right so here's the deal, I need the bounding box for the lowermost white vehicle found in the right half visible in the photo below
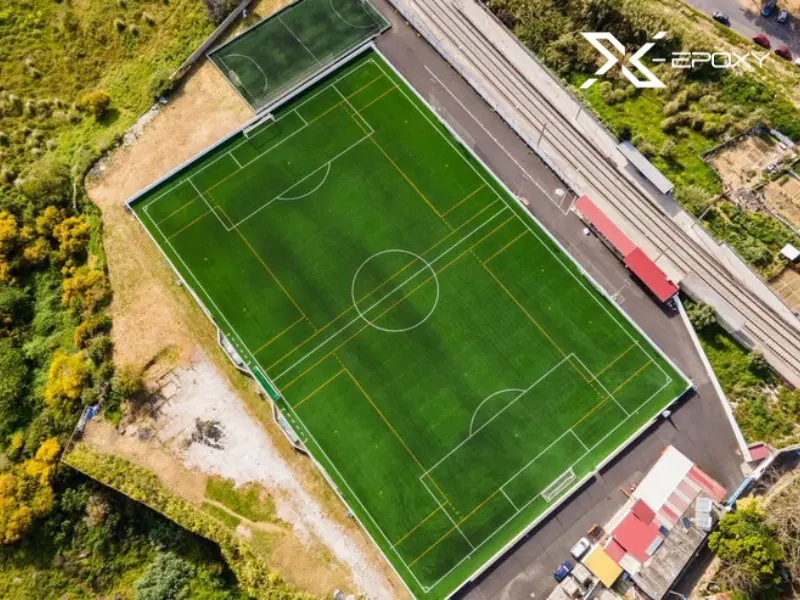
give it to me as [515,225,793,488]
[570,538,591,560]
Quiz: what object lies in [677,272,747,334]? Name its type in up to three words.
building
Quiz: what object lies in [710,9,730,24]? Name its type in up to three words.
car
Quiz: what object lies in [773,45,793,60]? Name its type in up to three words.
car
